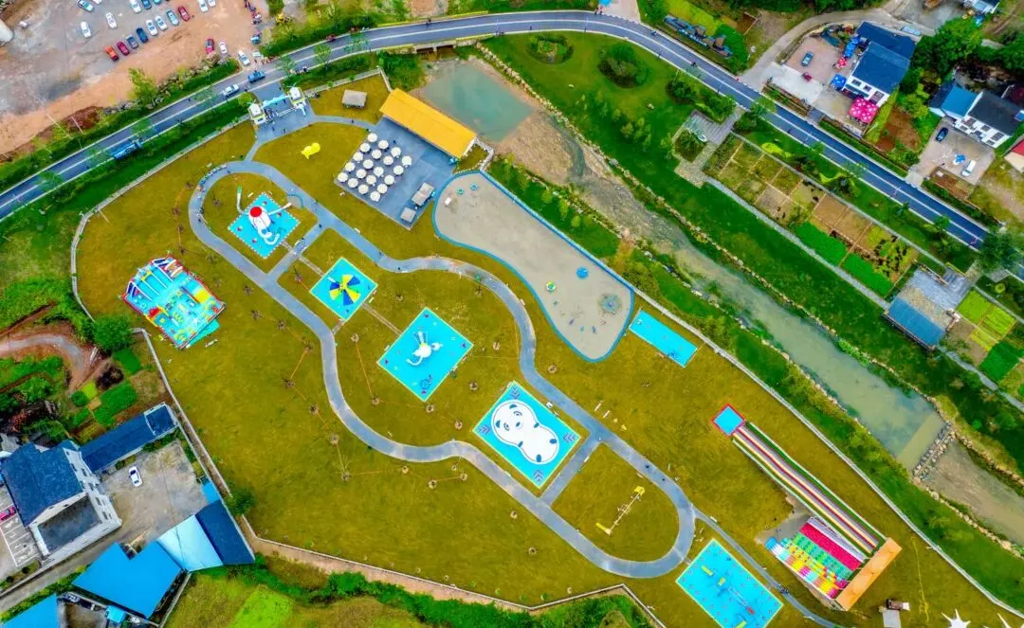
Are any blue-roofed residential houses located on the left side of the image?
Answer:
Yes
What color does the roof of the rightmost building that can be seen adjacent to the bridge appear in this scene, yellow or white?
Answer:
yellow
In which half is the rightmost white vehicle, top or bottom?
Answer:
top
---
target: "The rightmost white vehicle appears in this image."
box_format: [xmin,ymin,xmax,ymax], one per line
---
[959,155,980,179]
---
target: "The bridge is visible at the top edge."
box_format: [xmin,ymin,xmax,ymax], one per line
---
[371,0,494,50]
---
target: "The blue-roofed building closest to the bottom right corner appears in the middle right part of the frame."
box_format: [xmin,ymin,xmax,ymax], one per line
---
[884,297,946,347]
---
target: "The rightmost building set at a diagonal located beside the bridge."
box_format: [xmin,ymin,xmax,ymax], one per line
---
[380,89,475,159]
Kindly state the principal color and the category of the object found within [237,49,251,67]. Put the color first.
white car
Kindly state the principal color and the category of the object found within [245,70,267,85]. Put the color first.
blue vehicle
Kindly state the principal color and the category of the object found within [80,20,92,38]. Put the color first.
white vehicle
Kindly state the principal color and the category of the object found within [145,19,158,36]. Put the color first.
white vehicle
